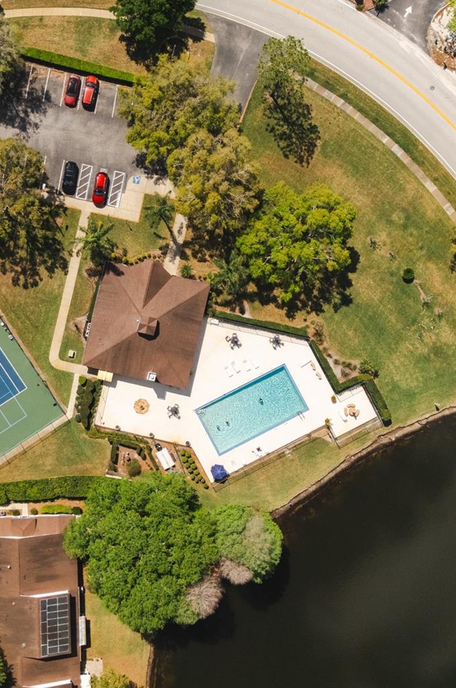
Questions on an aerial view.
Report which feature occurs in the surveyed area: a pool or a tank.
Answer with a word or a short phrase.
pool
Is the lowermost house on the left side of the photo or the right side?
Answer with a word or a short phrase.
left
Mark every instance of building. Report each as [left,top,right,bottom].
[0,516,80,688]
[83,259,209,388]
